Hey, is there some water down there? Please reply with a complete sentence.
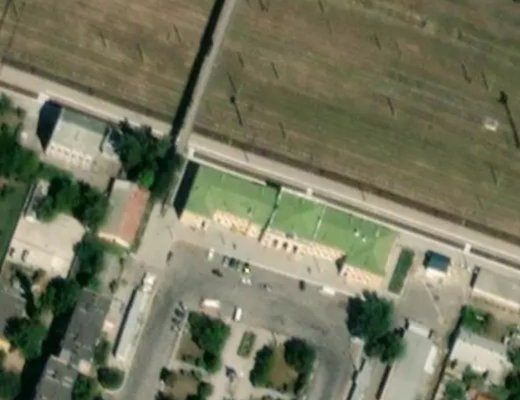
No, there's no water in this view.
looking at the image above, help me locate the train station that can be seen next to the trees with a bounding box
[0,65,520,288]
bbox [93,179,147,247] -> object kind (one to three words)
house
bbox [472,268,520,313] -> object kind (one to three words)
building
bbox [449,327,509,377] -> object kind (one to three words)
house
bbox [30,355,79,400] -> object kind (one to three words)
building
